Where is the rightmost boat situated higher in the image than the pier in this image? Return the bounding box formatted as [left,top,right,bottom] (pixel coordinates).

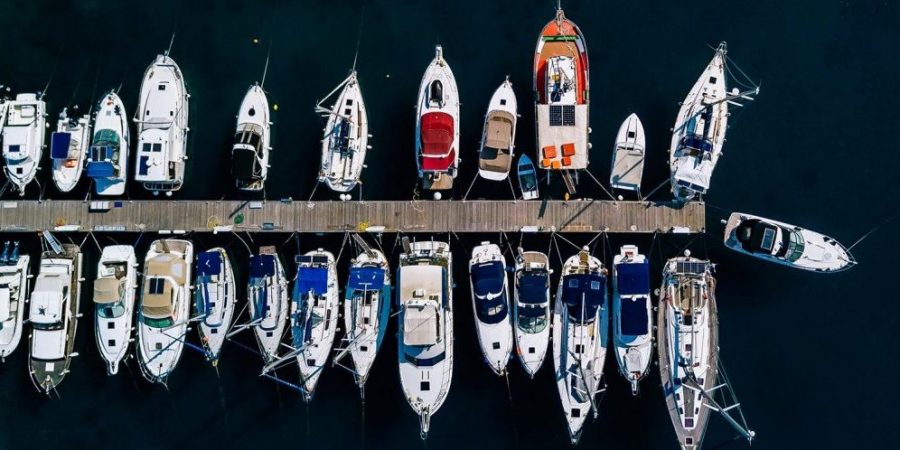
[664,42,759,204]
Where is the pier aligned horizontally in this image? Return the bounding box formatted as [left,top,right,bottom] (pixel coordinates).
[0,201,706,233]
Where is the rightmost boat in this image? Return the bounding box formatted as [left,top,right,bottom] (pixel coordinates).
[719,214,861,272]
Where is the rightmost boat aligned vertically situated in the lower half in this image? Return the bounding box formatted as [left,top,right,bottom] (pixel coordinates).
[653,250,755,450]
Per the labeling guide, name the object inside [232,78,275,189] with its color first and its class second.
white boat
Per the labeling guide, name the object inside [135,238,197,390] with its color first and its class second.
white boat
